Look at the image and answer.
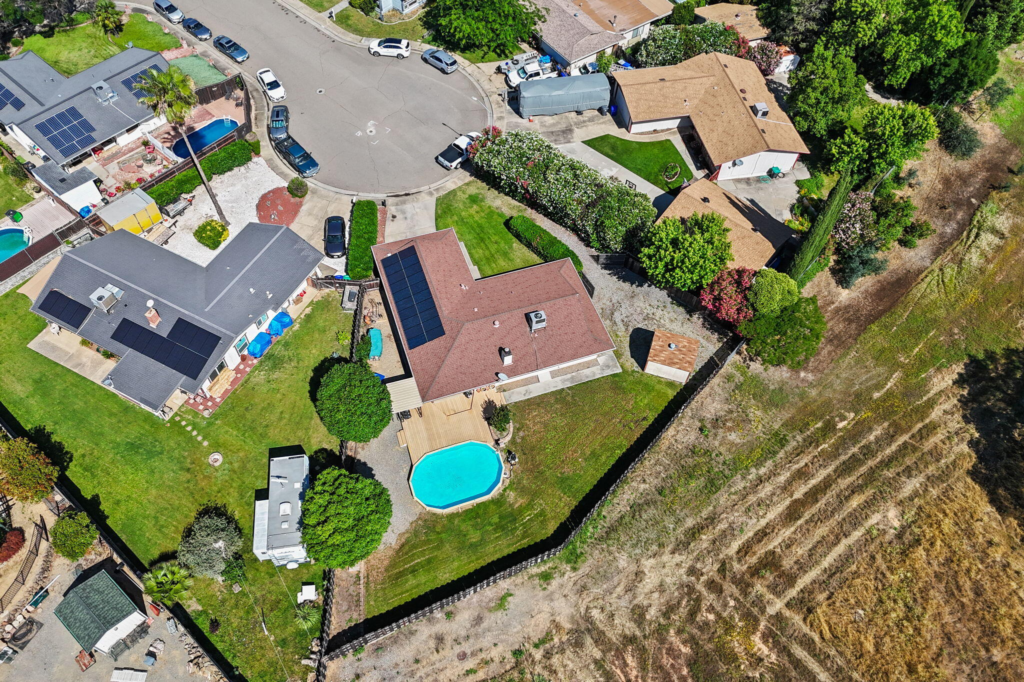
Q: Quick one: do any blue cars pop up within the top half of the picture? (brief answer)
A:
Yes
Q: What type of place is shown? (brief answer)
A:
residential area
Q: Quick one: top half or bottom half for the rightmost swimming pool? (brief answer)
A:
bottom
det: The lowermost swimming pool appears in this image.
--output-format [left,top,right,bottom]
[409,440,505,518]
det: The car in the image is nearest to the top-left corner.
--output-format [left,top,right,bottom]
[156,0,184,23]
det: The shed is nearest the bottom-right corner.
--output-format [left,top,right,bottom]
[644,329,700,387]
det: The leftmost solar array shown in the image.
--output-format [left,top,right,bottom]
[0,84,23,115]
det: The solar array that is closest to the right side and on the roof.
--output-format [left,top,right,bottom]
[380,245,445,348]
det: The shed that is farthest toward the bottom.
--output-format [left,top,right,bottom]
[53,570,146,658]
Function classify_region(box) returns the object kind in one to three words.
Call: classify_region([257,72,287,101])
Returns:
car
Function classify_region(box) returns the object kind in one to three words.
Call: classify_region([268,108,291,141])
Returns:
car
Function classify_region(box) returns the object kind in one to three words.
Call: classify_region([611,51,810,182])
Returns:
house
